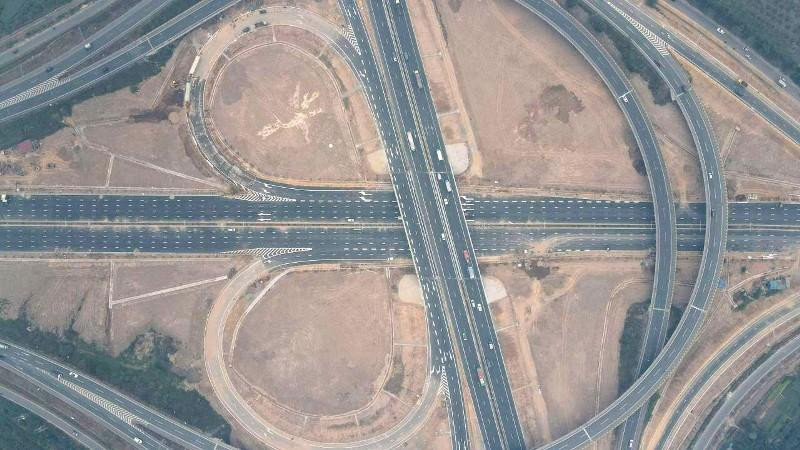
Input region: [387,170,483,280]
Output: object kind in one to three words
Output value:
bridge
